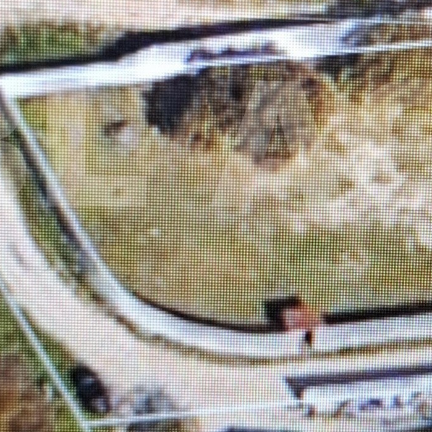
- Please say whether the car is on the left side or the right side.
left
